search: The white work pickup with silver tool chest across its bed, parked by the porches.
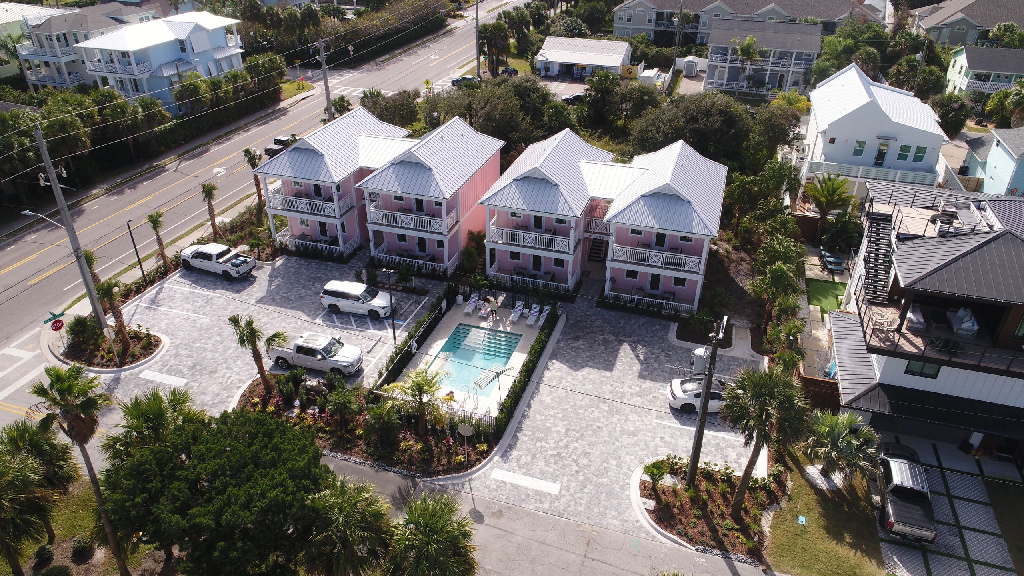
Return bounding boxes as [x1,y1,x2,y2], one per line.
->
[174,240,257,279]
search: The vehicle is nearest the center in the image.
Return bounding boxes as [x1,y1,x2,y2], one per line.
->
[318,277,397,320]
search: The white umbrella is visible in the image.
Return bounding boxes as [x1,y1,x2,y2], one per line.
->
[479,367,519,406]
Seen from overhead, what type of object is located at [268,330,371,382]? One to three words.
truck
